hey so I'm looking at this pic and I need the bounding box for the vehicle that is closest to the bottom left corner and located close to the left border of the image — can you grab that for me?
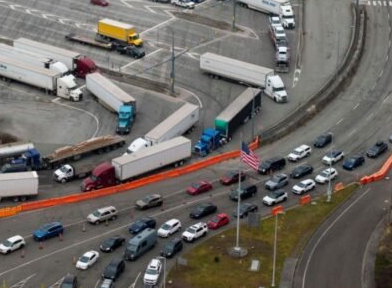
[0,235,26,254]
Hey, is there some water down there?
No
